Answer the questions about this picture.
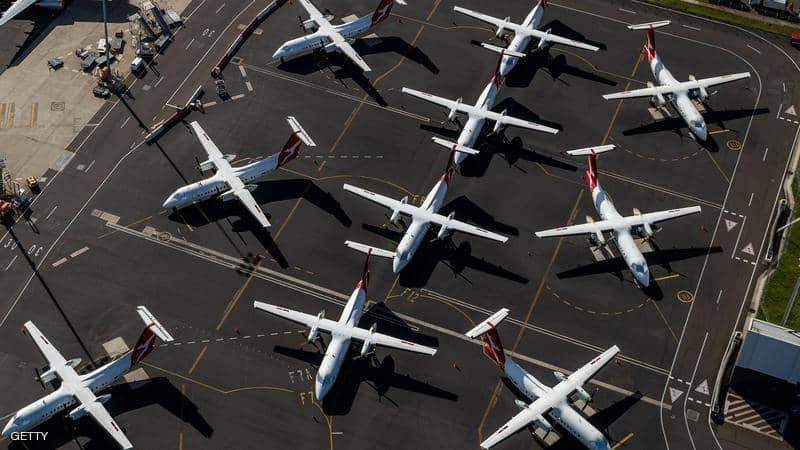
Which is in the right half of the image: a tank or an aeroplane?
aeroplane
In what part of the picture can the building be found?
bottom right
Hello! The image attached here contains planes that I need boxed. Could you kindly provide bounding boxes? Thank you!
[537,144,702,284]
[0,0,66,20]
[162,116,316,227]
[2,305,175,448]
[342,136,508,272]
[454,0,598,74]
[605,20,751,138]
[401,41,558,162]
[466,309,621,450]
[252,240,437,398]
[272,0,408,70]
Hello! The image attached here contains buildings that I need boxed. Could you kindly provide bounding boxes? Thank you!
[730,318,800,413]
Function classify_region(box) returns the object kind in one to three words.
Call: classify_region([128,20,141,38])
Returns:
vehicle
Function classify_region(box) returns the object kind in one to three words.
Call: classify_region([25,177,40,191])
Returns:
vehicle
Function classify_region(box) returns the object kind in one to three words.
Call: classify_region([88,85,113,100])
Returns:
car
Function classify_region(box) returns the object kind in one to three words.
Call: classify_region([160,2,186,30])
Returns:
truck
